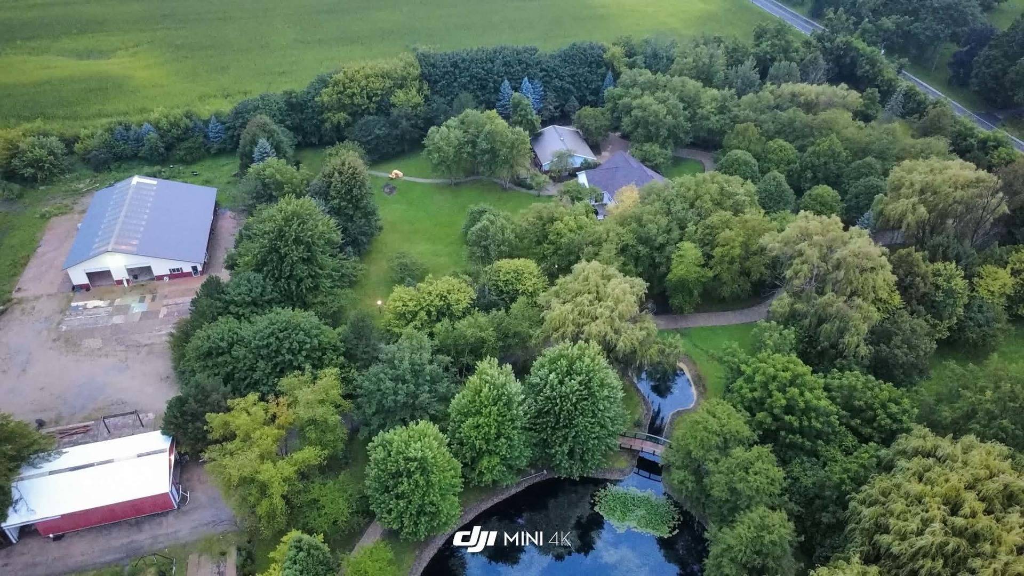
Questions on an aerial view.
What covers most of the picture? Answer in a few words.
trees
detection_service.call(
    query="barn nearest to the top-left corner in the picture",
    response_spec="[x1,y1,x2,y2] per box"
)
[61,176,217,288]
